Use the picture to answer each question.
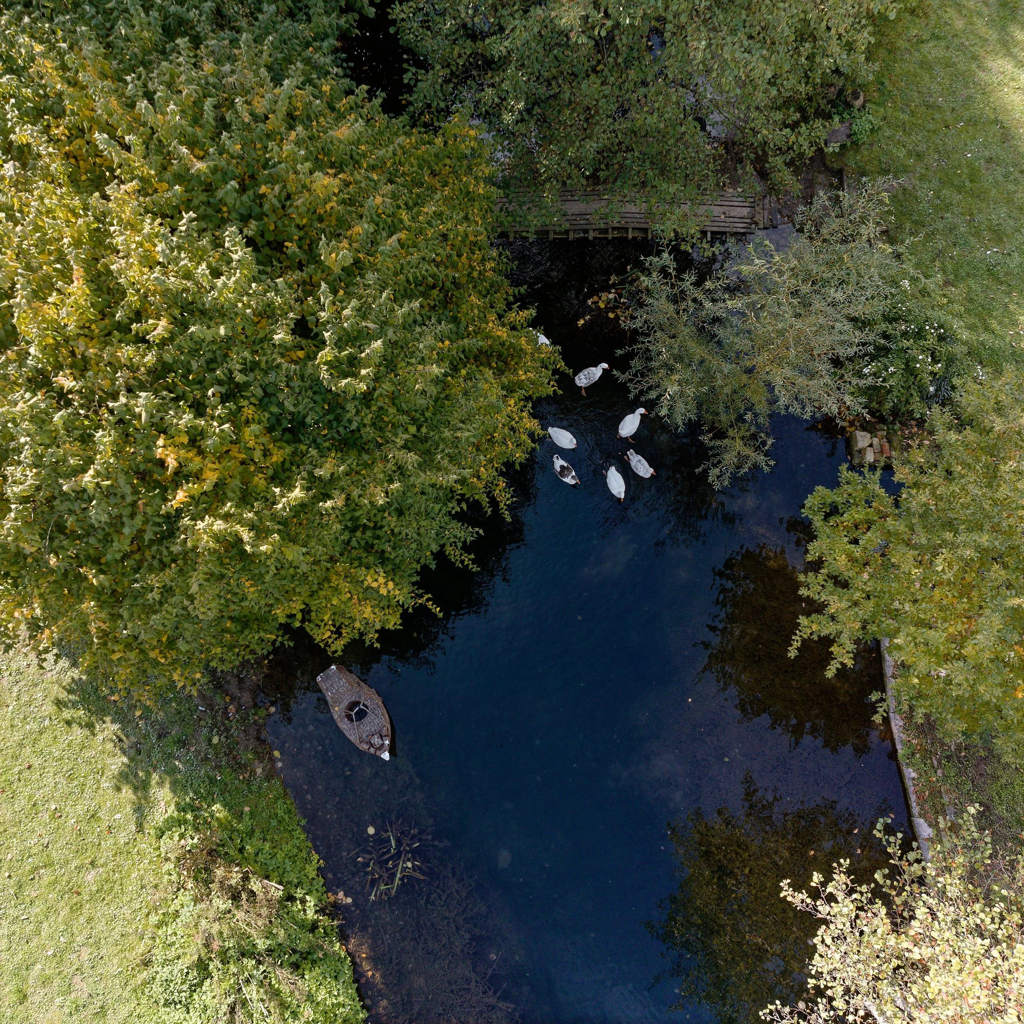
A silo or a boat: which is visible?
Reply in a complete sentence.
It is a boat that can be seen here.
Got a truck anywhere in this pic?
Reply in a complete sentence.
No, I can see no truck in this picture.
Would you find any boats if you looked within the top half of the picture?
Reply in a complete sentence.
No, the scene shows no boat within the top half of the picture.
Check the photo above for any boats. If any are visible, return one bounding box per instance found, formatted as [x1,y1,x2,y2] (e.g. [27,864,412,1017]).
[316,665,391,761]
